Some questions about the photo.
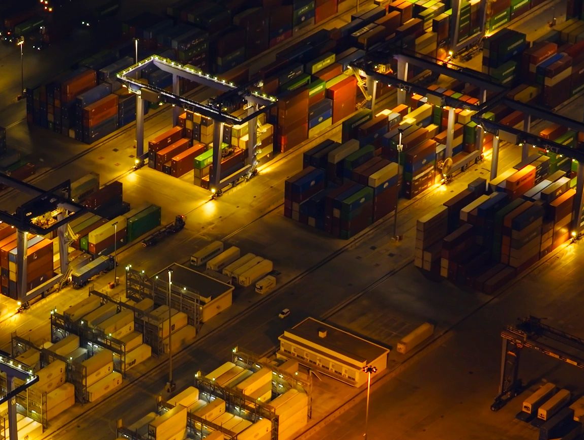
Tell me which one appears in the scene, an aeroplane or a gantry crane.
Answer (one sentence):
This aerial view contains a gantry crane.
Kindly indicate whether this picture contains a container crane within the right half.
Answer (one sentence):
Yes, a container crane is visible within the right half.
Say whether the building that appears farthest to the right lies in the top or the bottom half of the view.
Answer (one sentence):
The building that appears farthest to the right is in the bottom half of the image.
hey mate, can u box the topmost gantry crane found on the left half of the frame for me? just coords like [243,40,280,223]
[108,54,282,197]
